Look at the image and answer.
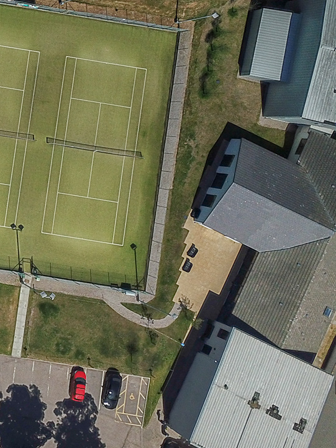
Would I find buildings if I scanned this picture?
Yes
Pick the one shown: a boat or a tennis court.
tennis court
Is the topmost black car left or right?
left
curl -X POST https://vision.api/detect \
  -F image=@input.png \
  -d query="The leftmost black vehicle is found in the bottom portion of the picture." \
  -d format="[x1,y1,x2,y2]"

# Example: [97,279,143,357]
[100,368,121,407]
